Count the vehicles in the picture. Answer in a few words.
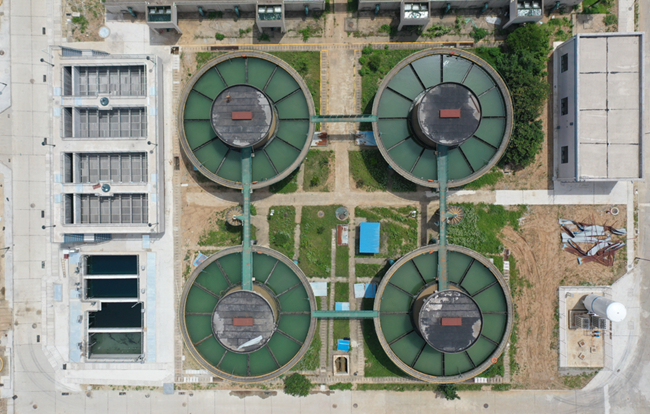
zero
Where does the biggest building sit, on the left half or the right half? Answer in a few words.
left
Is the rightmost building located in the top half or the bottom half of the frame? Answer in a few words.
top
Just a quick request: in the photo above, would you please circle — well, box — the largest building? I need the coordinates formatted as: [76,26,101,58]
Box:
[48,46,162,242]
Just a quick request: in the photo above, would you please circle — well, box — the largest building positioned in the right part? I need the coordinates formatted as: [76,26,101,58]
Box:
[555,33,643,182]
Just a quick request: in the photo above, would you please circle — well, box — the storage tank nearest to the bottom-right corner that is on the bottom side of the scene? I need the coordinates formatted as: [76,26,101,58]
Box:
[578,292,624,321]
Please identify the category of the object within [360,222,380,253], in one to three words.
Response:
shed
